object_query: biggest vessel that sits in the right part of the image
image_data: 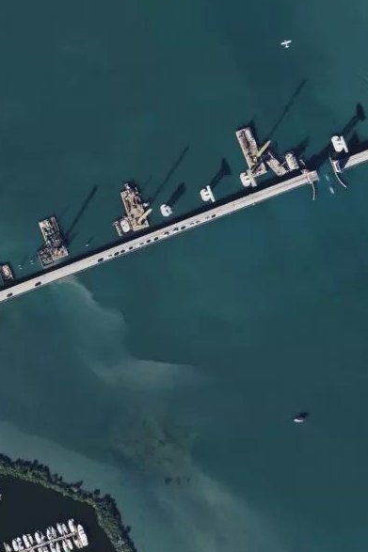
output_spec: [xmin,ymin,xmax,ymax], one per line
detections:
[236,127,267,174]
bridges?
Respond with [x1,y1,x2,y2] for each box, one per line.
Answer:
[0,148,368,301]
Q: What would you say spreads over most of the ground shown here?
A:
water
